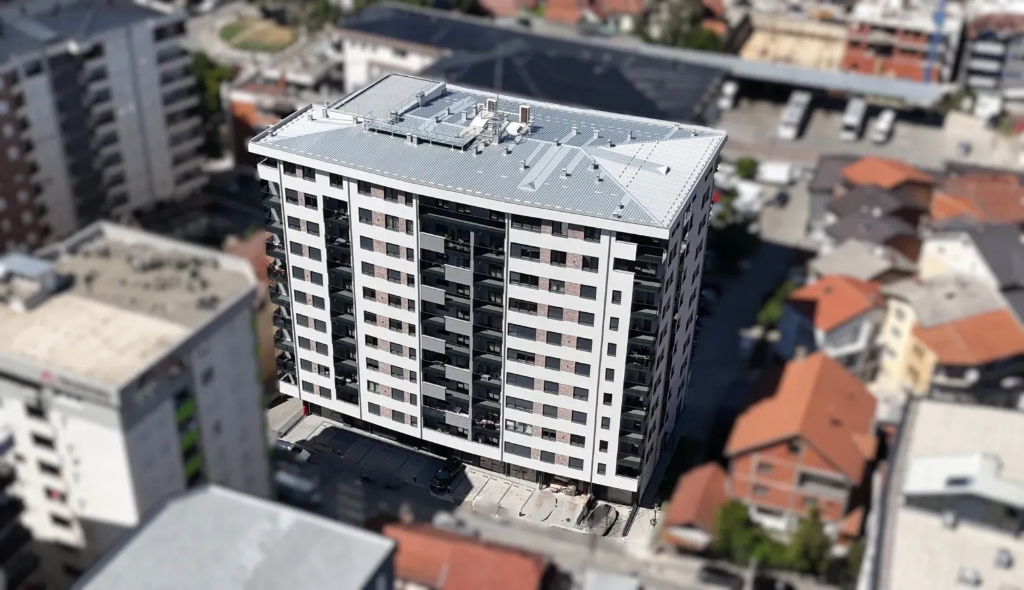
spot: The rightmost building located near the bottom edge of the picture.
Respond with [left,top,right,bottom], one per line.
[871,396,1024,590]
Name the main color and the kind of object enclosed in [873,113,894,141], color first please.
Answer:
white vehicle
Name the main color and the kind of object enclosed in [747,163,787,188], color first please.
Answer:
white vehicle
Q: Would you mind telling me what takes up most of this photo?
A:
buildings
